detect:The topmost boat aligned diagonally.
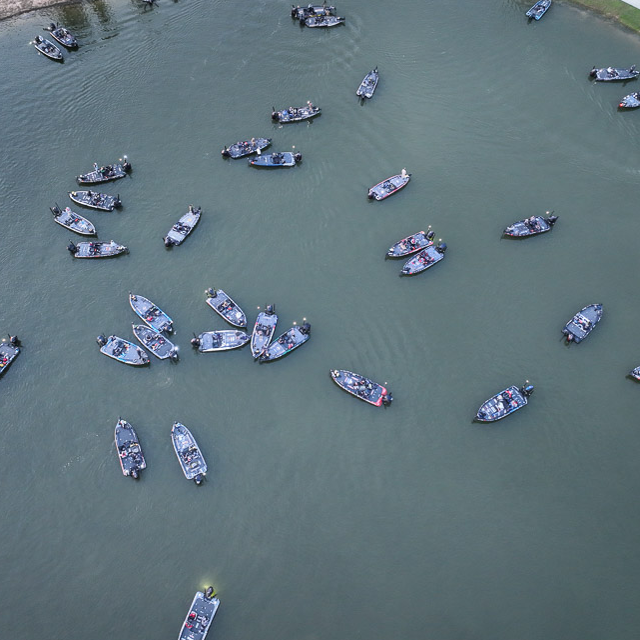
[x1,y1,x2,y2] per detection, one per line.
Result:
[527,0,552,21]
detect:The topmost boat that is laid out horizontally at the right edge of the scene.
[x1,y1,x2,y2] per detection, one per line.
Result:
[594,63,640,82]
